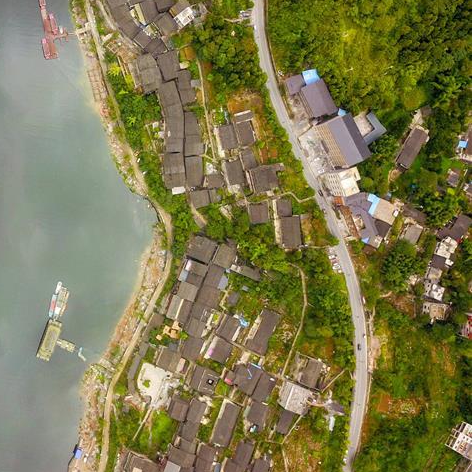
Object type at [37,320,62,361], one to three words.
pier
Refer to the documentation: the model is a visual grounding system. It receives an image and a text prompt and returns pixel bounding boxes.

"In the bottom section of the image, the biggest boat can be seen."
[52,288,64,320]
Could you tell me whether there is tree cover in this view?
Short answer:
Yes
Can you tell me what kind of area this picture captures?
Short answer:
residential area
